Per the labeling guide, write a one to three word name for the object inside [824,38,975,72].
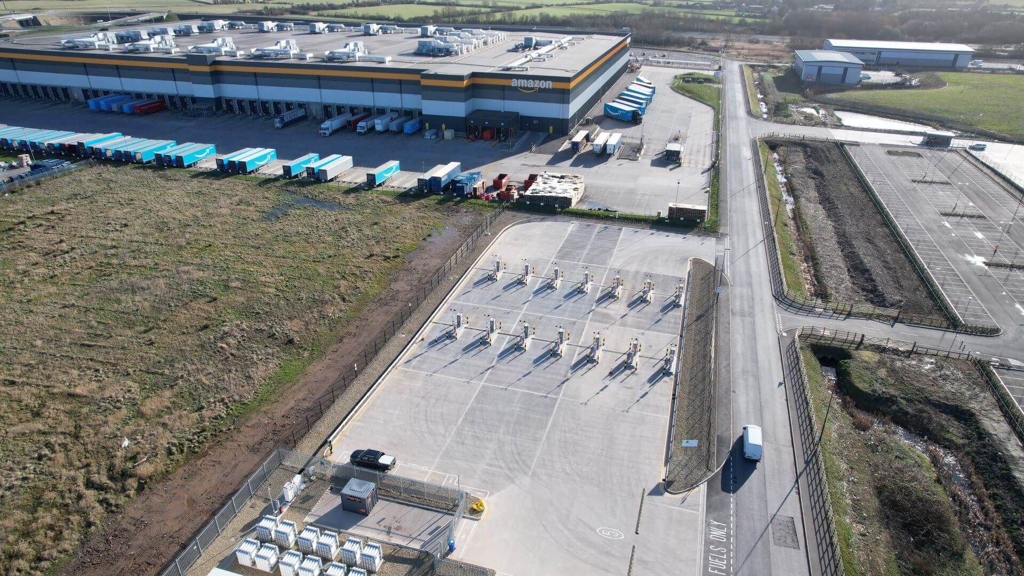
shed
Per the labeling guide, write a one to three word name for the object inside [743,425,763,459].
vehicle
